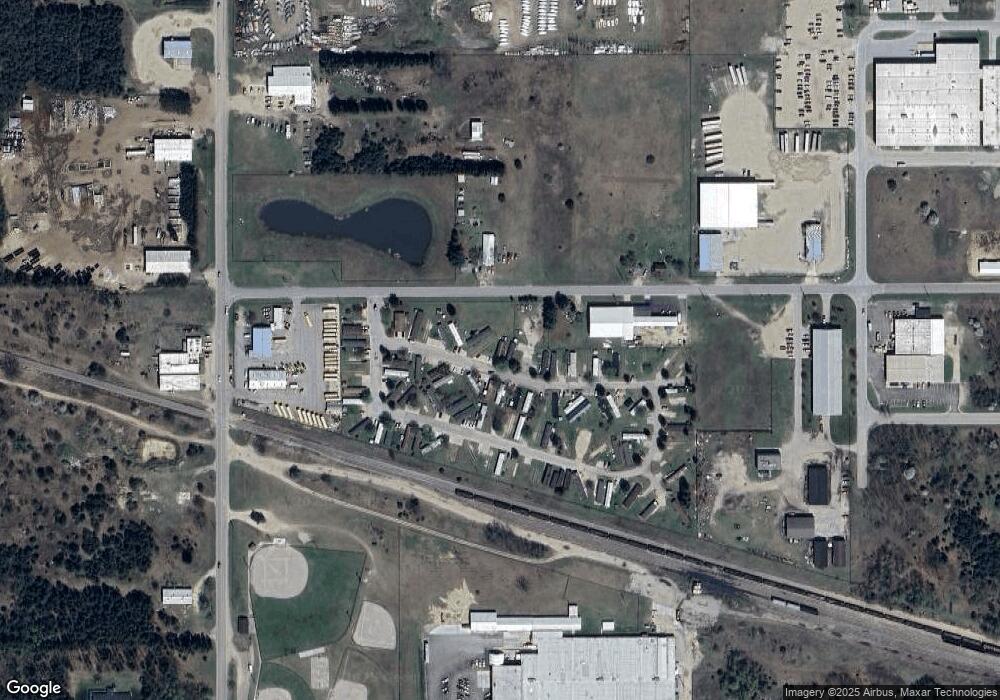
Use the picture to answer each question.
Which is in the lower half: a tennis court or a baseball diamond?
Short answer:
baseball diamond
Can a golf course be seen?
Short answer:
No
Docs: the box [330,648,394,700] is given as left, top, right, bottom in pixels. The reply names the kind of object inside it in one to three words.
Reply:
baseball field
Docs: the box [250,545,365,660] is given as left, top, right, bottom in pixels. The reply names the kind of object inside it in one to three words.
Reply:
baseball field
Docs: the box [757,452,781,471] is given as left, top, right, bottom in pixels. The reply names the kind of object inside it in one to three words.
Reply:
house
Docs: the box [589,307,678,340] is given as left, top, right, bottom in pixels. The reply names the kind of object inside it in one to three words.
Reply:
building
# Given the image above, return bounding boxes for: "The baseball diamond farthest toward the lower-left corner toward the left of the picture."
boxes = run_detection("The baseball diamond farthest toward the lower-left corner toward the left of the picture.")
[256,663,312,700]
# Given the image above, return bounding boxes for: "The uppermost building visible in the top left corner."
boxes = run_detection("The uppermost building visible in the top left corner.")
[163,40,192,59]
